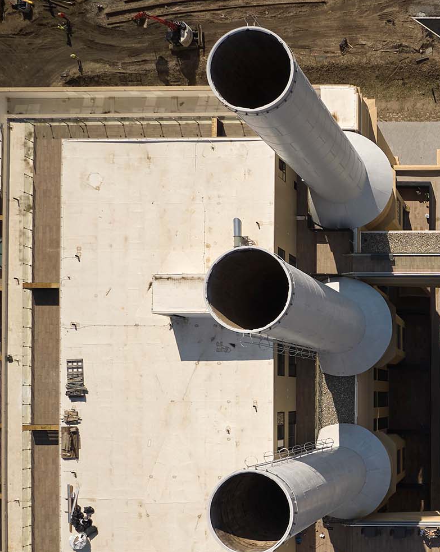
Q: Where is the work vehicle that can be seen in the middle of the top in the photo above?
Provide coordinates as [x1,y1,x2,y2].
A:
[143,13,204,48]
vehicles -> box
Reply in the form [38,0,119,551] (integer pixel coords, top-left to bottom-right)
[9,0,36,16]
[143,13,204,48]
